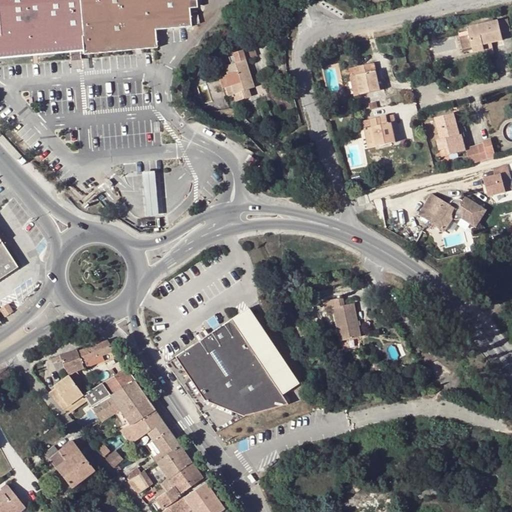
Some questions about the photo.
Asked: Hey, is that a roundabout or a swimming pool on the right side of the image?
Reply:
swimming pool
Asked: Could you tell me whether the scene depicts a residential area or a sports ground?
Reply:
residential area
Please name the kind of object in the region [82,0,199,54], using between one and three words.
building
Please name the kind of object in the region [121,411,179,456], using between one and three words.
house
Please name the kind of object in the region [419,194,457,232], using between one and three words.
house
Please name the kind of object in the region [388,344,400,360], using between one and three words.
swimming pool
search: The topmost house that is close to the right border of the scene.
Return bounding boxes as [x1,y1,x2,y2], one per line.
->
[458,20,502,52]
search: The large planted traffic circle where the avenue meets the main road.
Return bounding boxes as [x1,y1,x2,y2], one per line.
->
[52,229,142,318]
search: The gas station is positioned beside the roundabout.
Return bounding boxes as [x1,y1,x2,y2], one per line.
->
[138,171,166,232]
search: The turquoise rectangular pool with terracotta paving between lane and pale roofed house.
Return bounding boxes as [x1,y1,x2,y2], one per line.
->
[322,64,342,92]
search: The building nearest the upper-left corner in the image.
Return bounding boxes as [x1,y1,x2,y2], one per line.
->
[0,0,84,58]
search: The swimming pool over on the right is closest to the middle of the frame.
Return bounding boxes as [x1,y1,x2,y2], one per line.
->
[344,140,368,170]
